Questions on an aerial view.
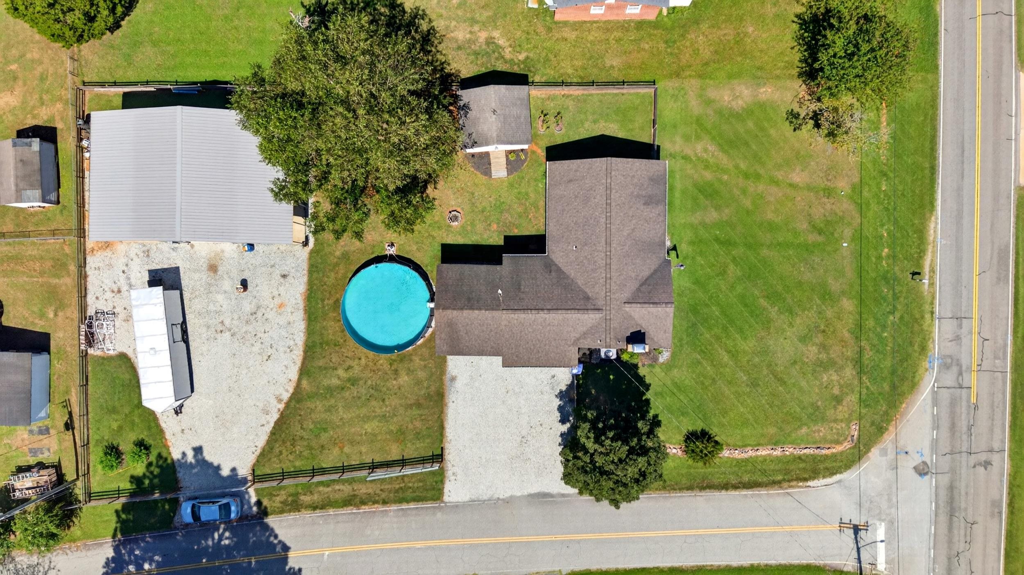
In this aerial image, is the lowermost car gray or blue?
blue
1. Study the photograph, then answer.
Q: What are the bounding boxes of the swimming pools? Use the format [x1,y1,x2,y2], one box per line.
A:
[340,261,434,356]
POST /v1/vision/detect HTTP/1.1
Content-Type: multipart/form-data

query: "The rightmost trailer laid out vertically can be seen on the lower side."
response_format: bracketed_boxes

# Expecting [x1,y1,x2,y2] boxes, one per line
[130,286,187,424]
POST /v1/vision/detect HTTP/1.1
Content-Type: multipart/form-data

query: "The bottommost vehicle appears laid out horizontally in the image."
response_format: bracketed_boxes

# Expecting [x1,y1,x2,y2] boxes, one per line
[182,495,242,525]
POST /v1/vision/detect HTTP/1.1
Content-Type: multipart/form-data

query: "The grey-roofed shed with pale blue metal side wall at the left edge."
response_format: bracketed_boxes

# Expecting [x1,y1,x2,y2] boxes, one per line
[0,351,49,428]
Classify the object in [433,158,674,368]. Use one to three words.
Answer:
house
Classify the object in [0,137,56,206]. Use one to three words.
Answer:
shed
